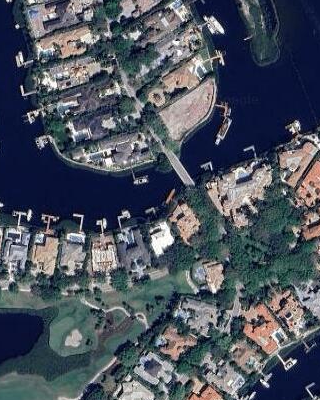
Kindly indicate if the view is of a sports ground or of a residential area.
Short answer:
residential area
